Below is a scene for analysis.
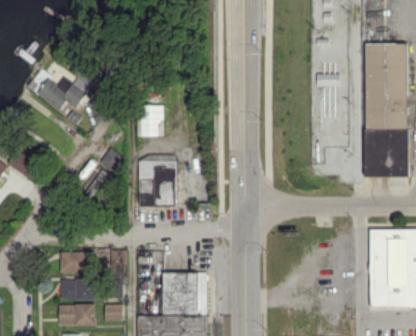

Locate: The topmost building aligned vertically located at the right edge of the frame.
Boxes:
[367,43,410,176]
